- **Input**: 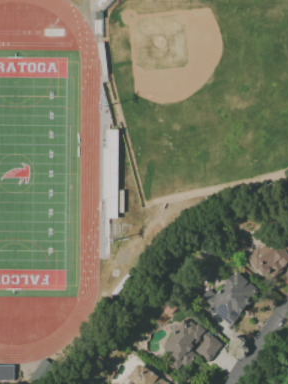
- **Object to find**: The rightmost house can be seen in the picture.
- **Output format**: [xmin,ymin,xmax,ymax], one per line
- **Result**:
[251,245,288,278]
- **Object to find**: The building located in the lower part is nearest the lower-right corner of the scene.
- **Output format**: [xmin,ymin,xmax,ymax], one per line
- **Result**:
[196,334,222,362]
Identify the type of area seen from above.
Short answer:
sports ground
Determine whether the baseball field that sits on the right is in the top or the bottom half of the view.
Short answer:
top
